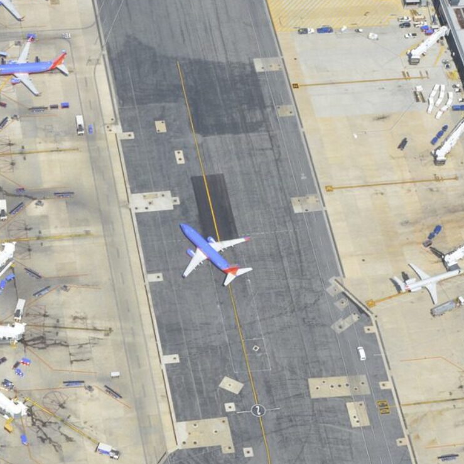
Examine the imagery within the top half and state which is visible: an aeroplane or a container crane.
aeroplane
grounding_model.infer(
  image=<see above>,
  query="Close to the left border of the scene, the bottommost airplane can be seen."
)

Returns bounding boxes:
[0,34,68,98]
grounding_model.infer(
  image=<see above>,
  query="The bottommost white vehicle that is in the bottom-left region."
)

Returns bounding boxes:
[94,439,120,458]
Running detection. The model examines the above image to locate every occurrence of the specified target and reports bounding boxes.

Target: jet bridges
[0,241,16,269]
[0,390,32,420]
[410,26,446,67]
[0,324,31,344]
[446,246,464,272]
[436,124,464,167]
